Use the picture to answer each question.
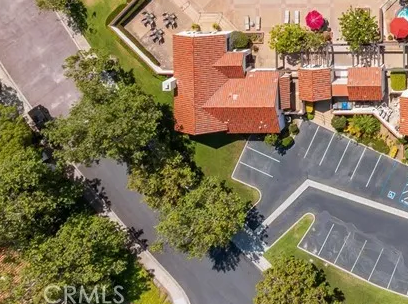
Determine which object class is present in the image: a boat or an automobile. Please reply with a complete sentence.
The one in the frame is an automobile.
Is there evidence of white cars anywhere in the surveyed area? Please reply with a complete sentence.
No, the picture doesn't show any white car.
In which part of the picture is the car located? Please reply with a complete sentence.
The car is in the left part of the image.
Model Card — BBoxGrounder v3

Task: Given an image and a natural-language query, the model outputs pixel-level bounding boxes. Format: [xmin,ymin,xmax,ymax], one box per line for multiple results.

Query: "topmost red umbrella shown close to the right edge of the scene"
[391,18,408,37]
